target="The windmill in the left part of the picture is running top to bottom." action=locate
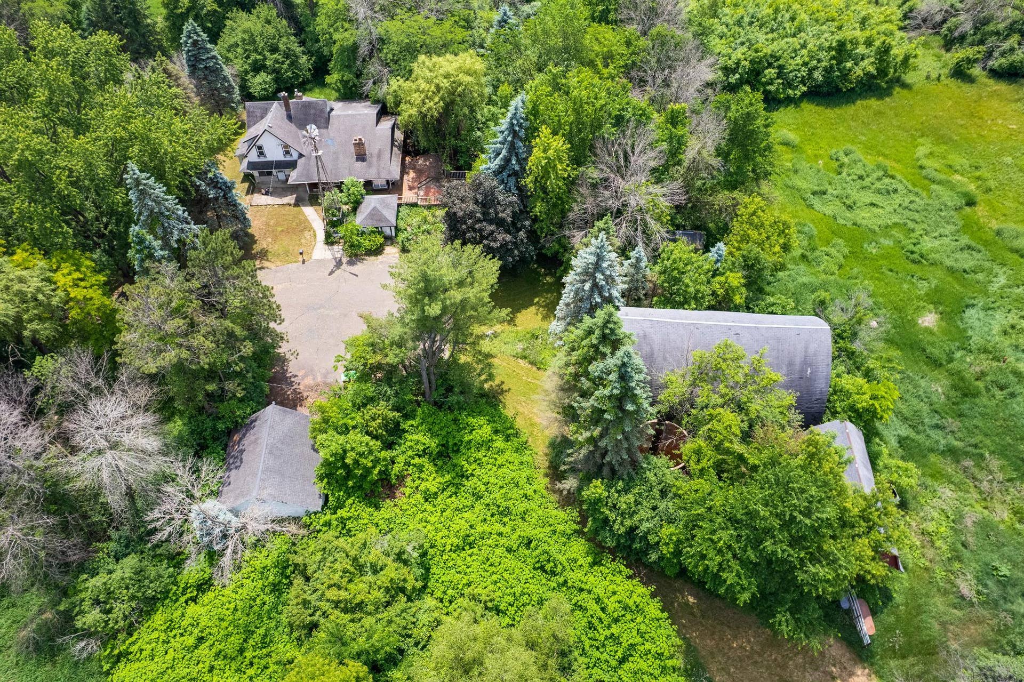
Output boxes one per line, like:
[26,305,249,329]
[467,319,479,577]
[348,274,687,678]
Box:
[299,123,347,240]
